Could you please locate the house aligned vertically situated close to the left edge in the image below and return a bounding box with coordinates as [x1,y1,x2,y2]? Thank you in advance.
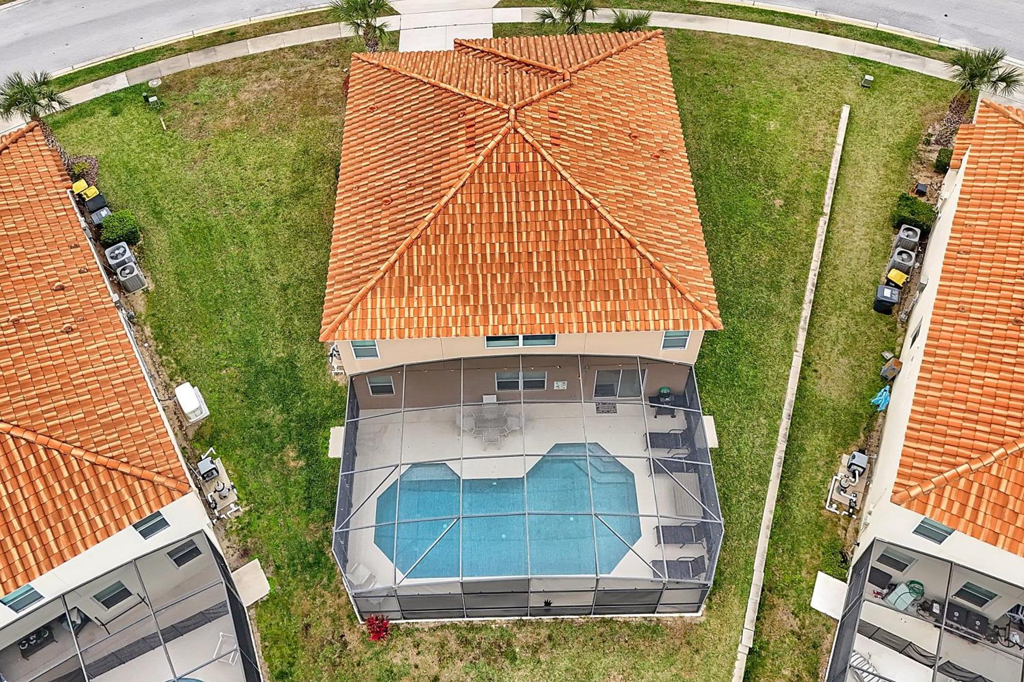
[0,121,221,669]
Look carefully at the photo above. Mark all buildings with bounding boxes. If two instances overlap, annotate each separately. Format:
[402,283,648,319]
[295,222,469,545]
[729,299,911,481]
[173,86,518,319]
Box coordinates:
[316,28,723,407]
[0,121,221,669]
[855,95,1024,628]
